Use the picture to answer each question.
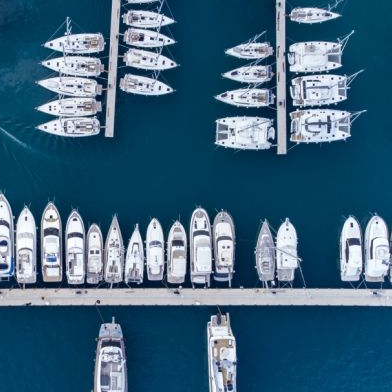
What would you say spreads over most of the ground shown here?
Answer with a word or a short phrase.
water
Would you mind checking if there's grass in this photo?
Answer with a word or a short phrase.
No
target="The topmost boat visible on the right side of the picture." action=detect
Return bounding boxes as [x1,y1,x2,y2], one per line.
[282,0,351,26]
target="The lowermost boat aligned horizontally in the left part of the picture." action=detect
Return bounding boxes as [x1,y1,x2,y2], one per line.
[34,114,106,139]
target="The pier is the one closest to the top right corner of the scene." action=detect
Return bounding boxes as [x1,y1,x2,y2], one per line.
[274,0,287,155]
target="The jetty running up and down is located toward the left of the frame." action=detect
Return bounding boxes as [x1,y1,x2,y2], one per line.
[105,0,119,138]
